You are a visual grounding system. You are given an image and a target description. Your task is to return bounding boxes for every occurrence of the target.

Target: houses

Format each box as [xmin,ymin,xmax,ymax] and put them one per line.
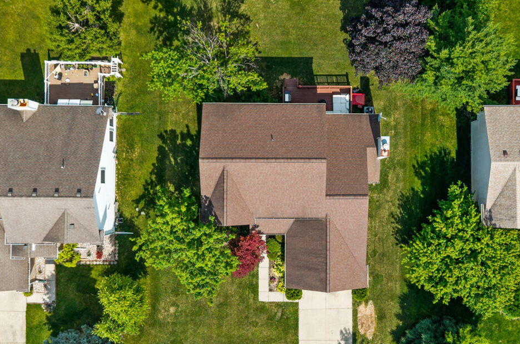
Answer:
[198,102,389,297]
[0,93,141,294]
[471,104,520,233]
